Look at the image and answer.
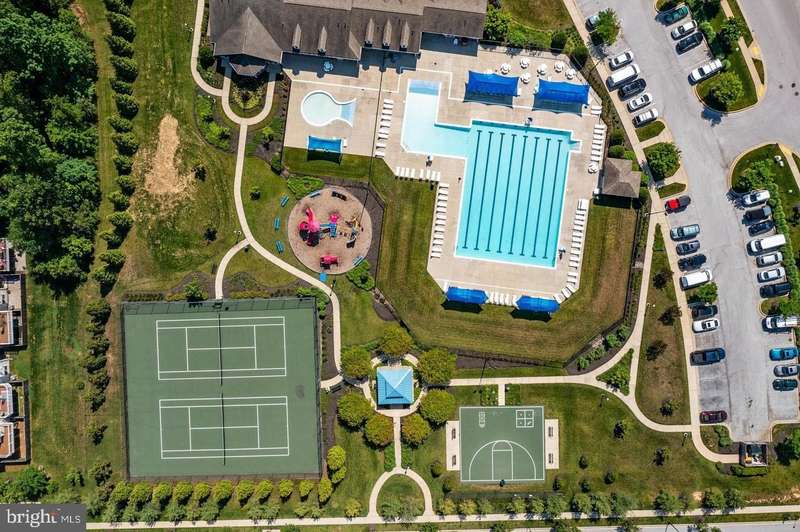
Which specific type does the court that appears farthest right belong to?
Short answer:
basketball court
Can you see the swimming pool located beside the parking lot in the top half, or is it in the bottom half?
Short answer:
top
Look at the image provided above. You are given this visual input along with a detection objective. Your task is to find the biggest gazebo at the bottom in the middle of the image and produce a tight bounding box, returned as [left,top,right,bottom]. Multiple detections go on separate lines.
[377,367,412,408]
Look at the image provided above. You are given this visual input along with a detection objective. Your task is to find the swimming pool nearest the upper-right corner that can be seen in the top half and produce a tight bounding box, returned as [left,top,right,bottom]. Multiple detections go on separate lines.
[399,77,584,270]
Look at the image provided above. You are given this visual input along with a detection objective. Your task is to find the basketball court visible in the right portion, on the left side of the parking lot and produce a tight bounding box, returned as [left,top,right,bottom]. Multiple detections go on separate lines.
[459,406,545,482]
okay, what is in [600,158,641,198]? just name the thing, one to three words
building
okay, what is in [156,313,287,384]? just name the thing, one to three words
tennis court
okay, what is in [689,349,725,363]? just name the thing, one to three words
vehicle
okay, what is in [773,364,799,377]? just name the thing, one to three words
vehicle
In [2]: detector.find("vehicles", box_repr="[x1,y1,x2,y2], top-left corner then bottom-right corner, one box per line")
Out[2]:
[773,364,799,377]
[663,195,693,211]
[691,319,720,332]
[746,236,788,252]
[740,206,774,223]
[630,109,658,127]
[674,34,704,53]
[741,192,771,207]
[746,220,777,234]
[626,95,652,112]
[617,80,645,98]
[676,255,706,270]
[605,66,639,87]
[660,5,691,25]
[768,348,797,360]
[689,349,725,363]
[757,268,784,281]
[762,316,797,330]
[771,378,797,391]
[583,12,609,30]
[755,252,781,266]
[670,226,702,240]
[607,52,634,70]
[670,20,698,40]
[758,283,791,297]
[689,305,719,319]
[678,270,710,286]
[674,241,701,254]
[687,61,722,82]
[698,410,727,423]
